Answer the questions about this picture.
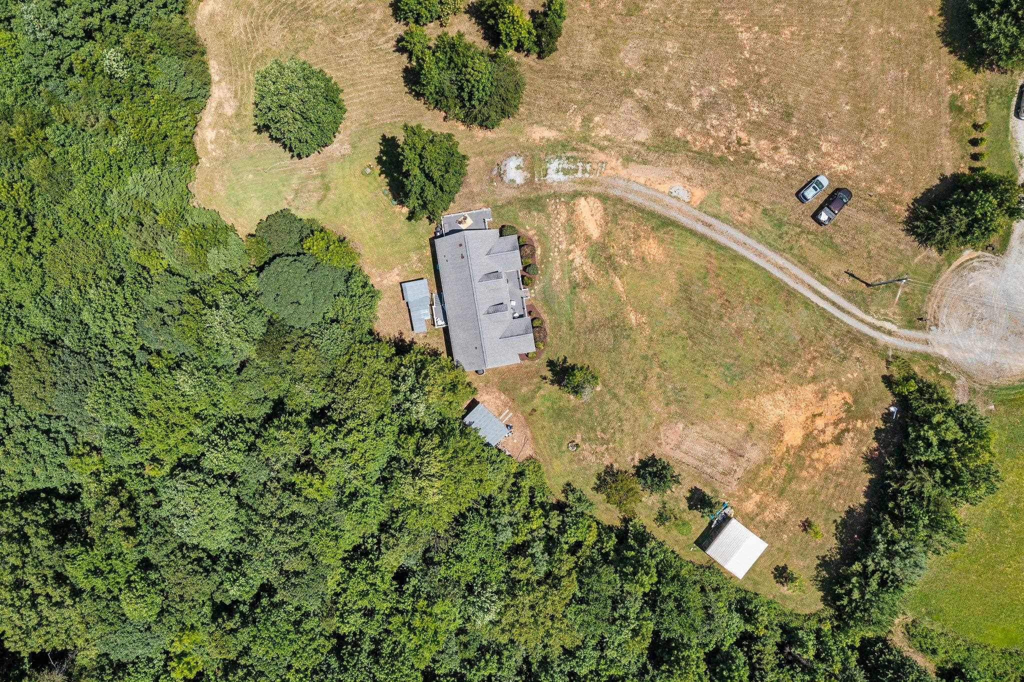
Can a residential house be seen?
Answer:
Yes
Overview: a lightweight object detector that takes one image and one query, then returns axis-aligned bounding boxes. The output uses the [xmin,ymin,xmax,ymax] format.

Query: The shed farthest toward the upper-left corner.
[401,279,430,332]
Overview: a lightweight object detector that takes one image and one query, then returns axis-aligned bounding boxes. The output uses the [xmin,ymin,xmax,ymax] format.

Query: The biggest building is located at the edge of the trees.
[431,207,536,373]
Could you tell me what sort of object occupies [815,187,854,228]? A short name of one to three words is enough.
truck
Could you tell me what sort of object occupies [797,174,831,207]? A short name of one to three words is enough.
car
